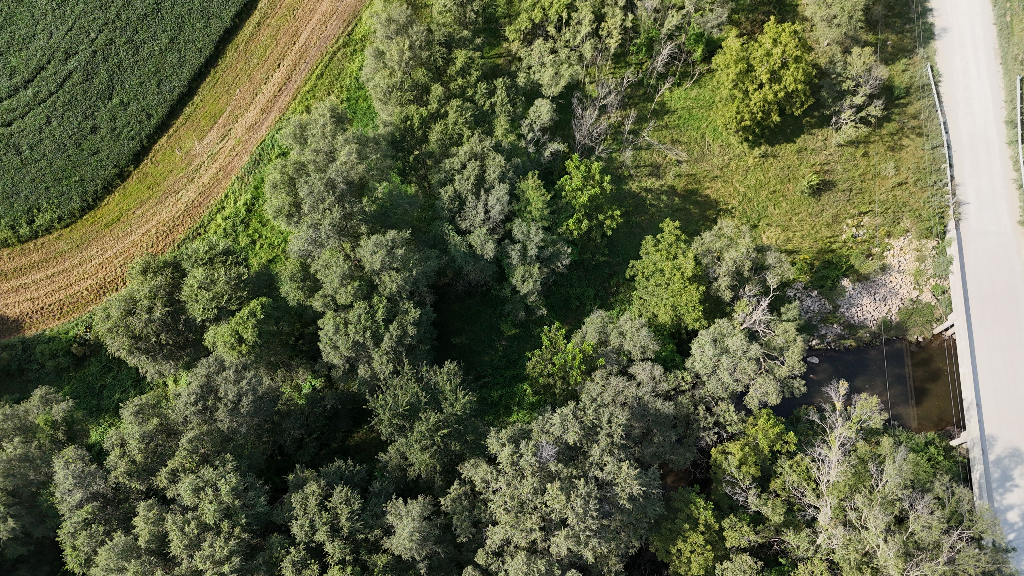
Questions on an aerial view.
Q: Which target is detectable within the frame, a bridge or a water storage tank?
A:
bridge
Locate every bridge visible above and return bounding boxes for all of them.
[934,209,999,570]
